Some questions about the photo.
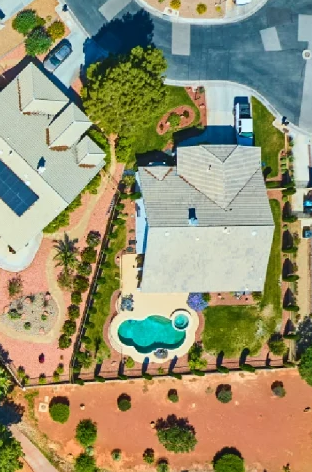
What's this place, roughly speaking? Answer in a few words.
residential area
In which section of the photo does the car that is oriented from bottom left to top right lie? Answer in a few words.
top left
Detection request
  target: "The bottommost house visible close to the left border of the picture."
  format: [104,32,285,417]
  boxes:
[0,62,107,246]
